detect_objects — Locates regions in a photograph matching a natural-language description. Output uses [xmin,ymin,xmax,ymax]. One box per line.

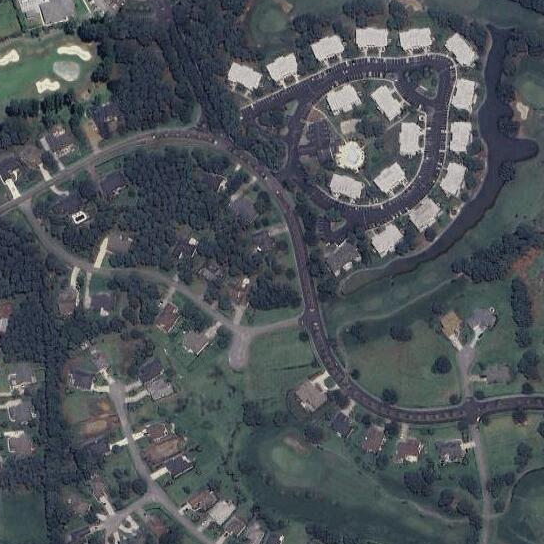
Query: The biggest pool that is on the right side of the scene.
[335,142,361,170]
